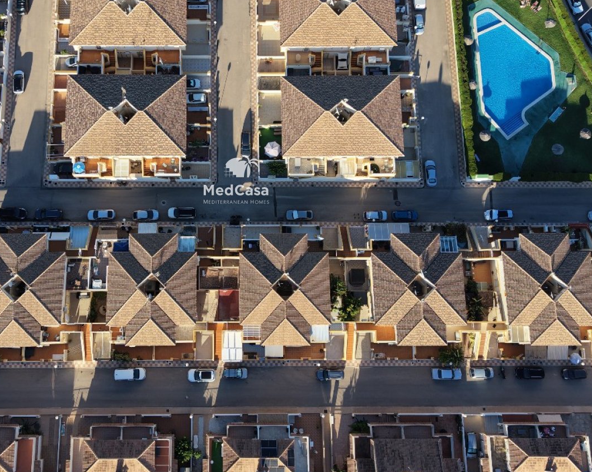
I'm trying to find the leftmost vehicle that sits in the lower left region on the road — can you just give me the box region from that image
[111,367,147,383]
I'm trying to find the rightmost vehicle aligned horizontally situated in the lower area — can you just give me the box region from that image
[559,367,589,382]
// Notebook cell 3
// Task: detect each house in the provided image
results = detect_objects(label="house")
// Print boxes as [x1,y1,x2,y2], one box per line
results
[0,234,72,347]
[203,421,320,472]
[489,232,592,345]
[0,421,44,472]
[365,233,466,346]
[280,74,405,179]
[278,0,398,74]
[479,421,592,472]
[63,74,187,178]
[68,0,187,73]
[64,421,182,472]
[105,233,197,346]
[239,233,332,346]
